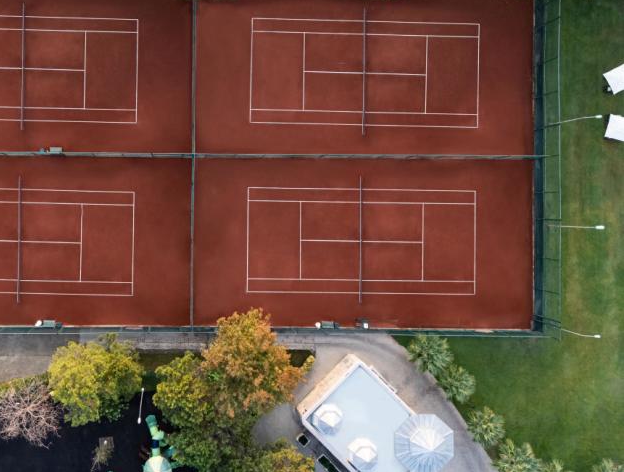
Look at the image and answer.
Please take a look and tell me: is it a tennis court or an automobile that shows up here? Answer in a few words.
tennis court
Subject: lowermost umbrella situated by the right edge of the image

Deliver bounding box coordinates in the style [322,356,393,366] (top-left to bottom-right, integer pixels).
[599,113,624,143]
